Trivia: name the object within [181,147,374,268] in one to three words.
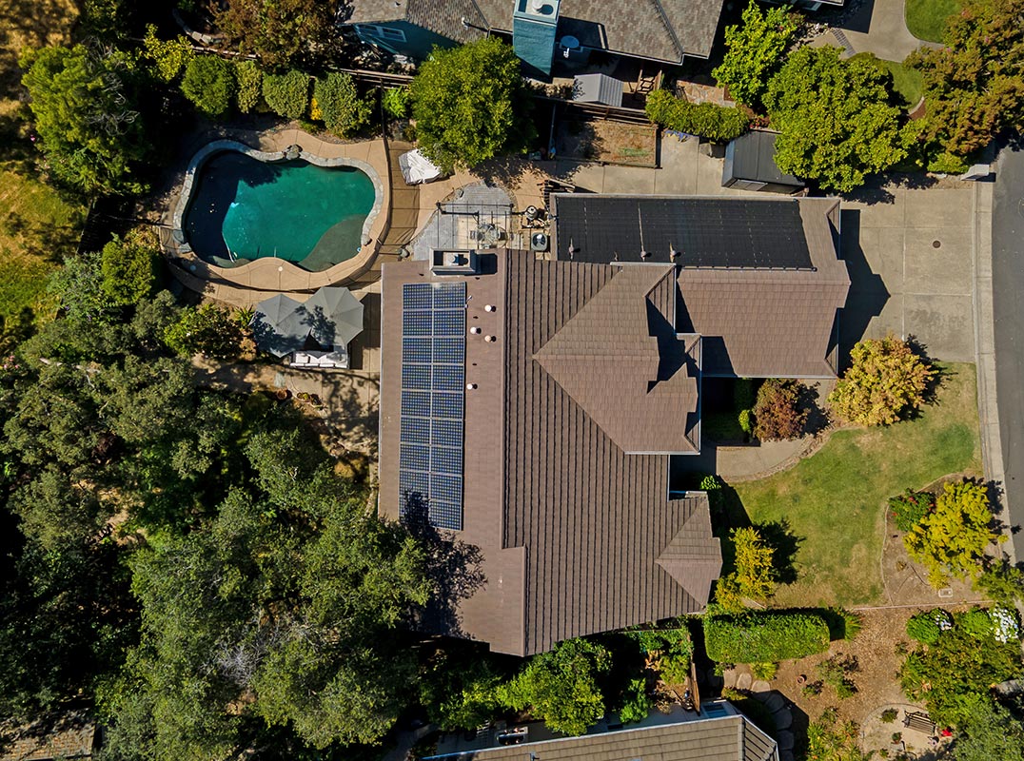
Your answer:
swimming pool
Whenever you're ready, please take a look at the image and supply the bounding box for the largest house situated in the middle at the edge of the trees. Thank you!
[381,193,852,657]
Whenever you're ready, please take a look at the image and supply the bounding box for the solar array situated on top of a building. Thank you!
[401,277,465,534]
